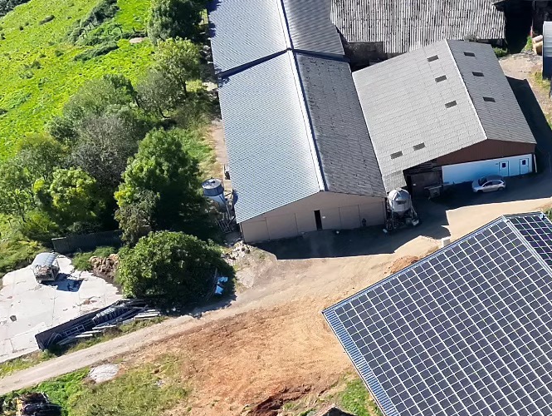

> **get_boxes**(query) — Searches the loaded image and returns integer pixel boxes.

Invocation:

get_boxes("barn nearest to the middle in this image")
[217,51,385,243]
